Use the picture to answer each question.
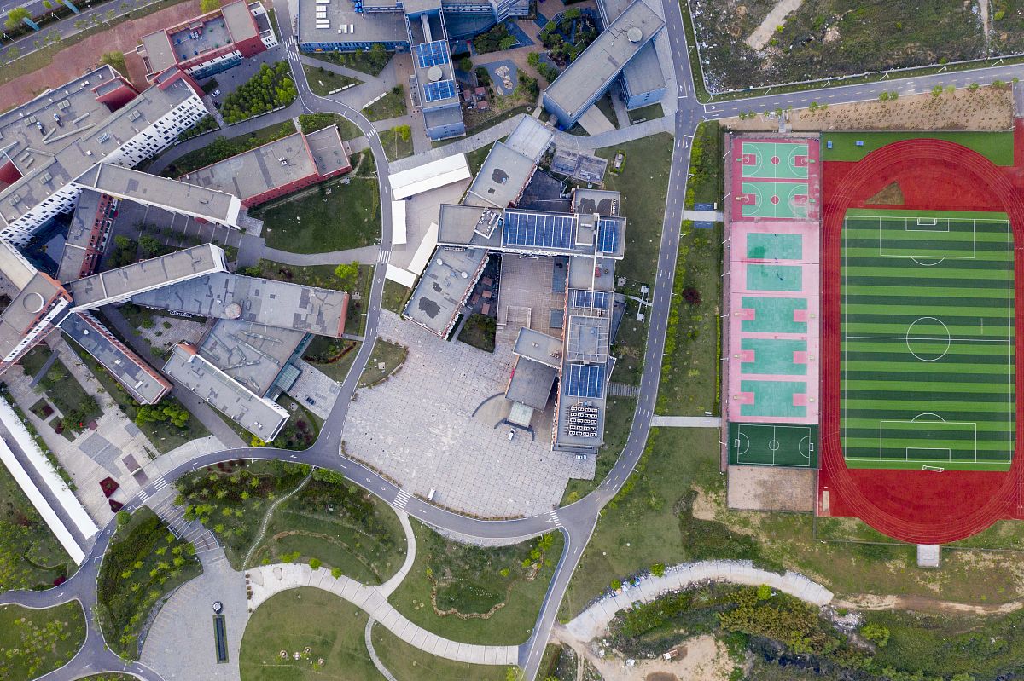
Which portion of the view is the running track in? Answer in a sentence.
The running track is in the right part of the image.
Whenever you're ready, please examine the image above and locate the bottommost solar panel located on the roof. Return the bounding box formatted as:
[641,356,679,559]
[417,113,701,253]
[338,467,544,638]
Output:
[564,364,599,398]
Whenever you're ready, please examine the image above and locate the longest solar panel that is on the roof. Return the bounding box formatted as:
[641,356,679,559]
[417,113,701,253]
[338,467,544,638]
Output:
[503,212,577,249]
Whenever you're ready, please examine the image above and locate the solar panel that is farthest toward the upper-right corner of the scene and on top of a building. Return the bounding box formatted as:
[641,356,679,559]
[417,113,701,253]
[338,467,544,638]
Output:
[597,219,619,253]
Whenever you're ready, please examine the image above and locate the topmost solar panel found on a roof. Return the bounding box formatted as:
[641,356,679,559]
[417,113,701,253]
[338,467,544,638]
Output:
[416,39,449,68]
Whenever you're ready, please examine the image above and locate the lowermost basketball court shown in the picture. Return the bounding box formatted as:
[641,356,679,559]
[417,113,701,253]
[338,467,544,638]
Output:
[741,380,807,417]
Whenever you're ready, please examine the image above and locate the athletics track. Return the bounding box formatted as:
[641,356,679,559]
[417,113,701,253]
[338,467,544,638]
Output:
[822,137,1024,548]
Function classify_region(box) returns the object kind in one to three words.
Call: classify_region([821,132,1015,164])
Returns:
sports field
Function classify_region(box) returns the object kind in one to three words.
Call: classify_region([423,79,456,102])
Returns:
solar panel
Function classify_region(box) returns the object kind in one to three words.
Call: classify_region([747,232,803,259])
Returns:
sports court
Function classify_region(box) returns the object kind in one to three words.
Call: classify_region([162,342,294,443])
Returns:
building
